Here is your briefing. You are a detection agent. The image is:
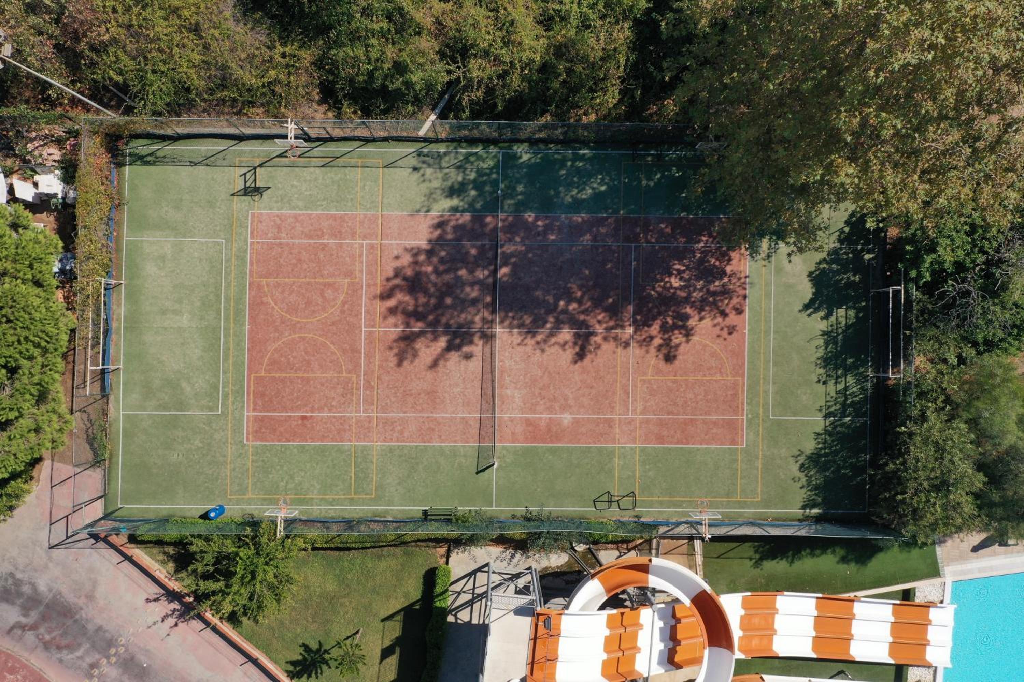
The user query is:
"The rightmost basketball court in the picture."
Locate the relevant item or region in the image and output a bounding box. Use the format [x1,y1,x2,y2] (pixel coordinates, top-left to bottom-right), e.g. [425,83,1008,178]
[616,161,766,501]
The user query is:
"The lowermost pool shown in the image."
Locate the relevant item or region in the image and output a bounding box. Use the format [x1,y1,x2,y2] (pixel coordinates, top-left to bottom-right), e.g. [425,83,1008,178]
[936,567,1024,682]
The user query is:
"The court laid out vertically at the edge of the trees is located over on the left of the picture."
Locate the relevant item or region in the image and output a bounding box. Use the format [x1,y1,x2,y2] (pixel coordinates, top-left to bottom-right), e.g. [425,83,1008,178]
[228,158,382,498]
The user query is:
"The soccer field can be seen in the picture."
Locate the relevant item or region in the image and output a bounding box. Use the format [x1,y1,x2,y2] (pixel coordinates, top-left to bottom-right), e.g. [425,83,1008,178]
[104,139,884,526]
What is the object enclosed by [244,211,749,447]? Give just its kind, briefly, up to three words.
tennis court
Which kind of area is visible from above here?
sports ground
